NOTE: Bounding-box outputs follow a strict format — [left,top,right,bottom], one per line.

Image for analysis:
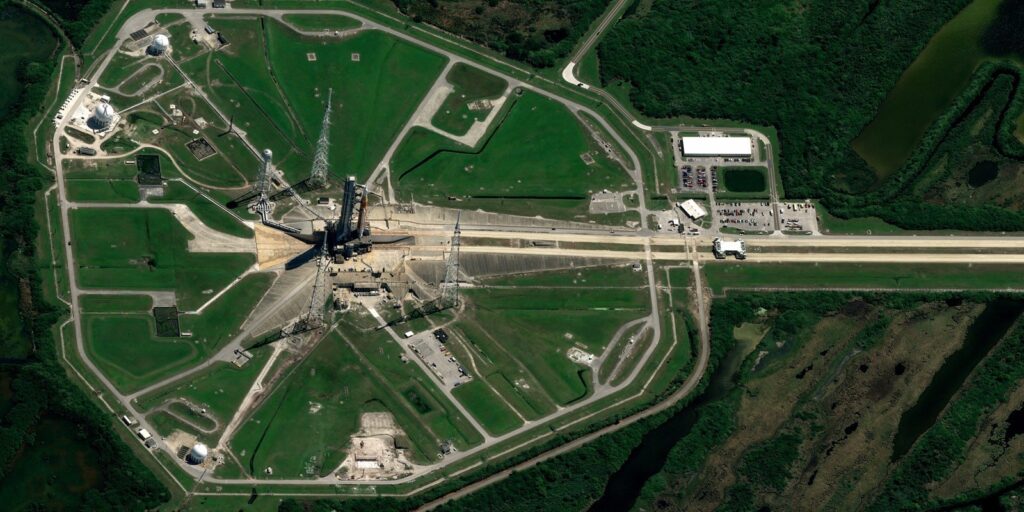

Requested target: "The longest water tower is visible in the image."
[256,151,272,199]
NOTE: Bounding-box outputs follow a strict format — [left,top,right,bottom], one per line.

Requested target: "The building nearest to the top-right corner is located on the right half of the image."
[682,137,752,158]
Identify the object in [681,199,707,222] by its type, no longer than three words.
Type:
building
